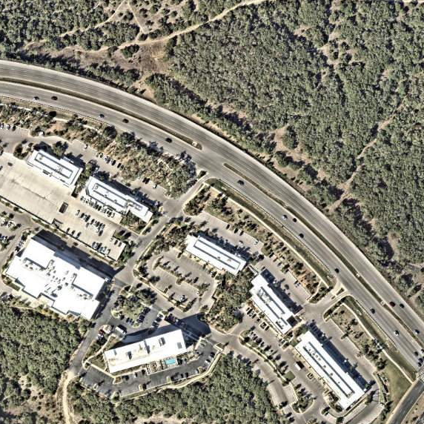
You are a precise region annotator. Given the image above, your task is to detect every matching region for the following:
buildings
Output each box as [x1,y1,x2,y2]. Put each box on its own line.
[6,239,108,320]
[103,330,187,373]
[183,235,247,276]
[85,176,154,224]
[294,331,365,410]
[27,149,82,189]
[250,273,293,335]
